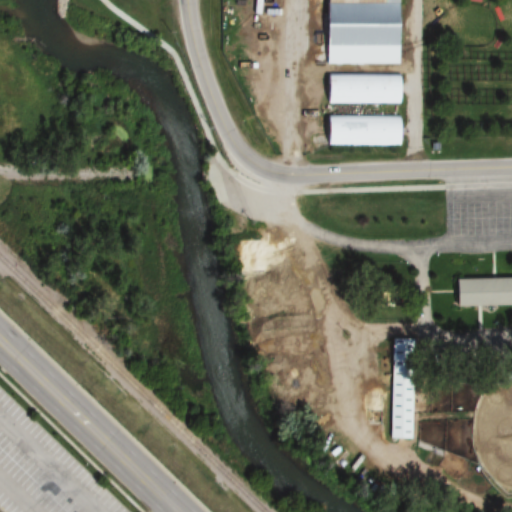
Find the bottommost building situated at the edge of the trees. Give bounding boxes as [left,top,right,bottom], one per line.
[392,339,414,440]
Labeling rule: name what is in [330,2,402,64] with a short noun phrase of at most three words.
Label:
barn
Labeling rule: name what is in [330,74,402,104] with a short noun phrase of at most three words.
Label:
shed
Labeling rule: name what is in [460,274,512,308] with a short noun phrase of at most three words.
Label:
house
